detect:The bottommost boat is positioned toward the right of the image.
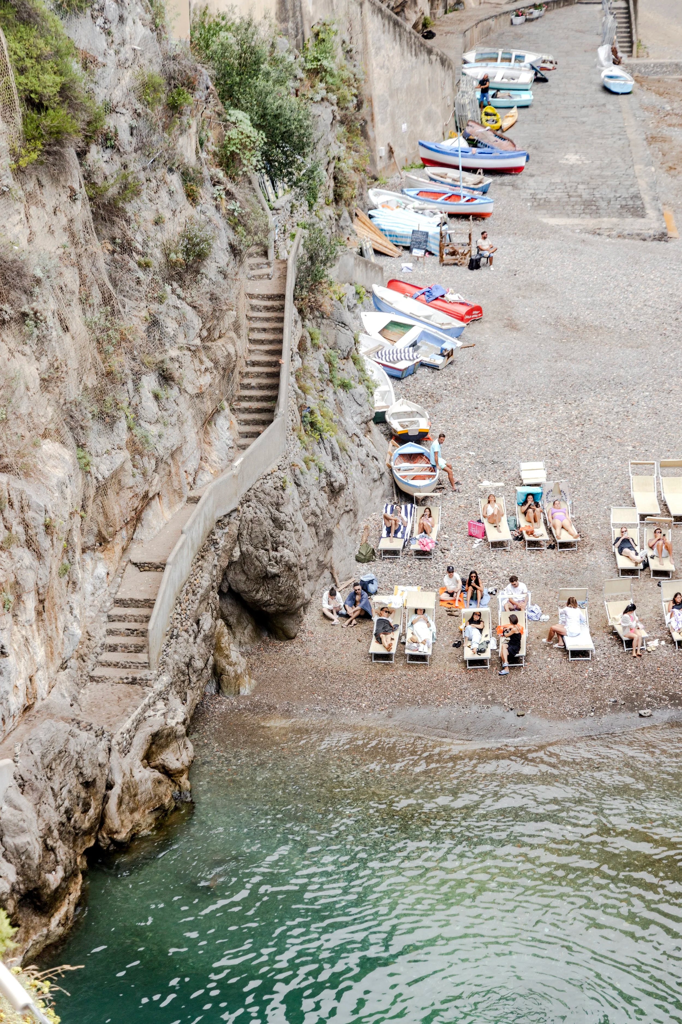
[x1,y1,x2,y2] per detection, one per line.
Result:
[392,445,437,500]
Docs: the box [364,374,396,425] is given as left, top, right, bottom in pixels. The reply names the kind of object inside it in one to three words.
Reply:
boat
